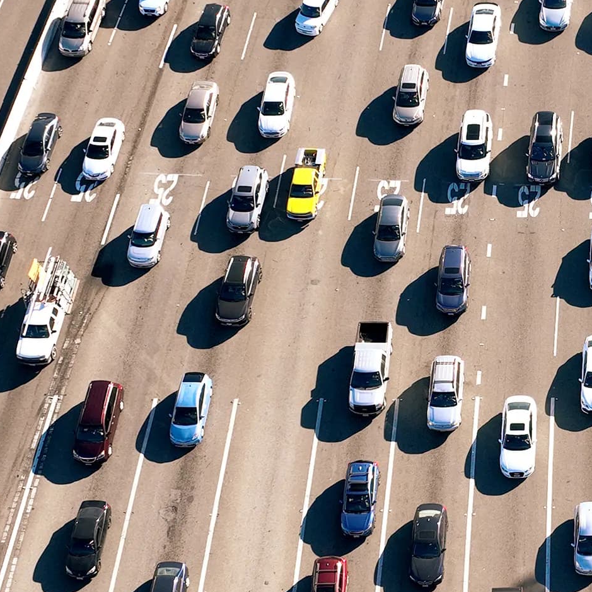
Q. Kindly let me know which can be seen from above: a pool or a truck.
truck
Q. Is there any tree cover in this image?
No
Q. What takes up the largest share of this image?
paved ground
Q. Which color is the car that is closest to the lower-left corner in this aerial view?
black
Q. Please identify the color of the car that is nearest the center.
black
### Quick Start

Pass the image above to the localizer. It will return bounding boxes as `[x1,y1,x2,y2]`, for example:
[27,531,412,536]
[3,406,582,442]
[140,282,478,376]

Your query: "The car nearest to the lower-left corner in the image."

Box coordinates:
[61,496,115,583]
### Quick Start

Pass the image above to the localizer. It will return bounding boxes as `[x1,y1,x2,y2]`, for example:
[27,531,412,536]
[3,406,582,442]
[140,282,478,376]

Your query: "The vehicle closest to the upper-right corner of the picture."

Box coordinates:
[538,0,571,33]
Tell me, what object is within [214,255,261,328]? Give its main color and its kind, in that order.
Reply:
black car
